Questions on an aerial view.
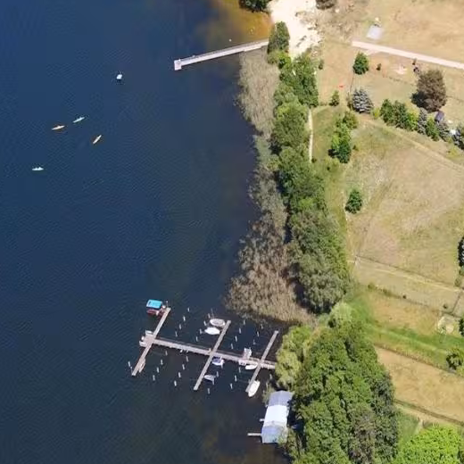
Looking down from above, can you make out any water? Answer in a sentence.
Yes, some water is visible.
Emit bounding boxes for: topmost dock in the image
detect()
[173,38,270,70]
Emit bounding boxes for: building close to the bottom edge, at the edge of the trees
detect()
[249,392,294,452]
